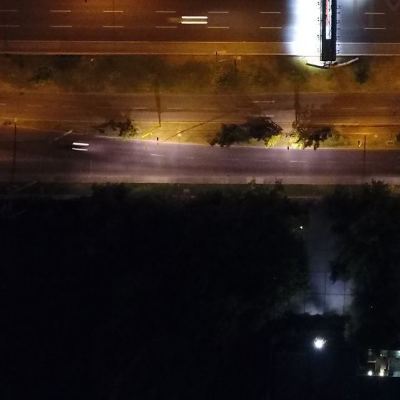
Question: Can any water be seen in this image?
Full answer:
No, the scene doesn't show any water.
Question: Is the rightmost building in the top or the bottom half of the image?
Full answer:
Seen from above, the rightmost building lies in the bottom half of the view.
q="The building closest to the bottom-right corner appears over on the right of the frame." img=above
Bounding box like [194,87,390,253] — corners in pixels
[366,343,400,379]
